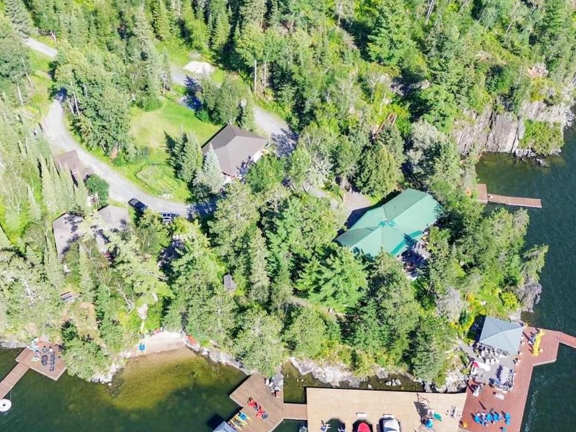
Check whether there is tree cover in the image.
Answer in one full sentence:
Yes, some tree cover is visible.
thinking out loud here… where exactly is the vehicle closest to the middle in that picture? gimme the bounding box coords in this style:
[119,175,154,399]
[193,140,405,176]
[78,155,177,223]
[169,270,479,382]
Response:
[157,207,181,219]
